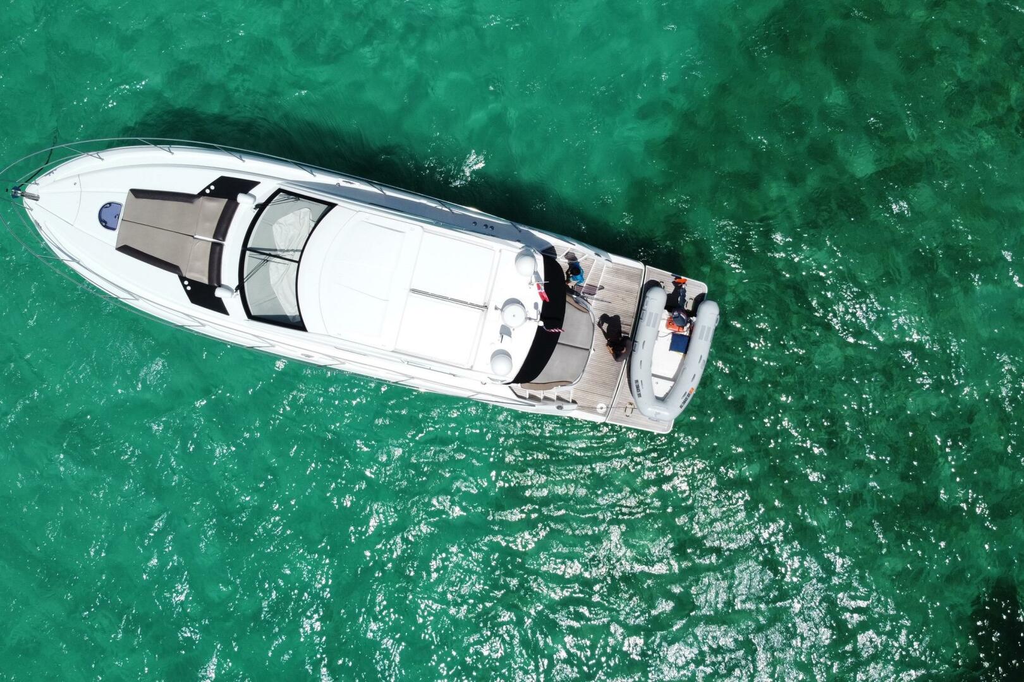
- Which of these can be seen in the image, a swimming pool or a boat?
boat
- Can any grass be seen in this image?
No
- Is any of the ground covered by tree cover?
No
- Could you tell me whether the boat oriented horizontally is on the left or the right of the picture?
left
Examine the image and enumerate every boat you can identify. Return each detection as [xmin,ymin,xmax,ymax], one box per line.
[631,278,719,421]
[0,137,707,434]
